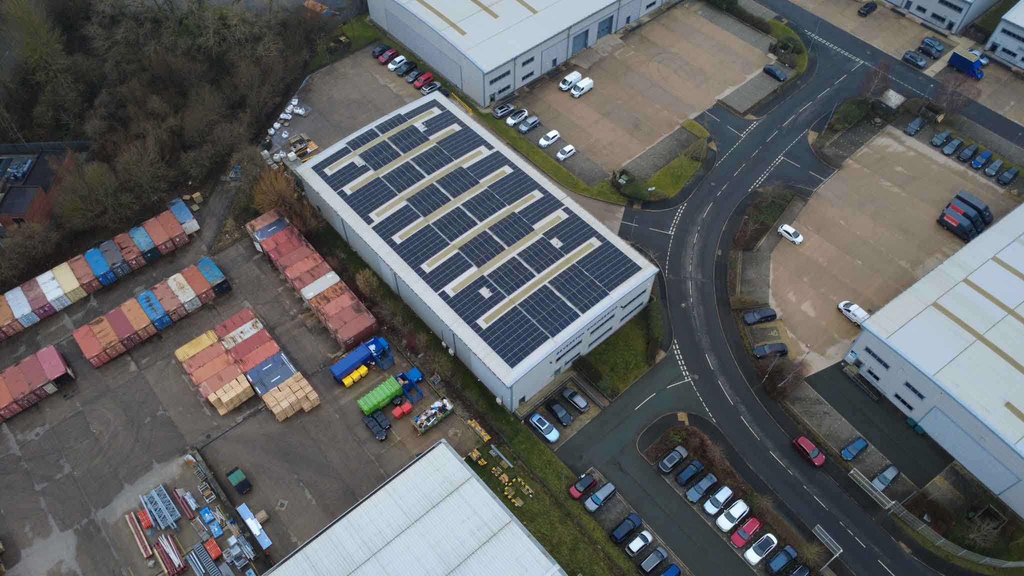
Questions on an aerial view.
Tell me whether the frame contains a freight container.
Yes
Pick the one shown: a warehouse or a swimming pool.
warehouse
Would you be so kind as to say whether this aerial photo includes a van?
Yes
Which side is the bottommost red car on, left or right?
right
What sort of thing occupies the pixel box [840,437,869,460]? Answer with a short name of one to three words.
car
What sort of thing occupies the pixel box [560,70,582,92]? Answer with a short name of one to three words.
vehicle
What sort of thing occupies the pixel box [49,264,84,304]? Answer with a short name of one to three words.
shipping container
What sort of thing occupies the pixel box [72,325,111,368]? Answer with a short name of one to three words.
shipping container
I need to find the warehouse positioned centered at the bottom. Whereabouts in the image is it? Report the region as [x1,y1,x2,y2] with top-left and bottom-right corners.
[258,437,571,576]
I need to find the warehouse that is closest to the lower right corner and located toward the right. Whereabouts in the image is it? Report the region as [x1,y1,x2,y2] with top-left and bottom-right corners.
[842,199,1024,517]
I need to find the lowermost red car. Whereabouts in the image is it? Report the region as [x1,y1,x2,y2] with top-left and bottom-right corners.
[732,516,762,547]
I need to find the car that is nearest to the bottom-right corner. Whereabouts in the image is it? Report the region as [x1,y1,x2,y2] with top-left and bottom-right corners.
[871,464,901,492]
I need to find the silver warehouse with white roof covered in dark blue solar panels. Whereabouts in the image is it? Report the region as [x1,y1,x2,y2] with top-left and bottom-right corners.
[289,90,661,414]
